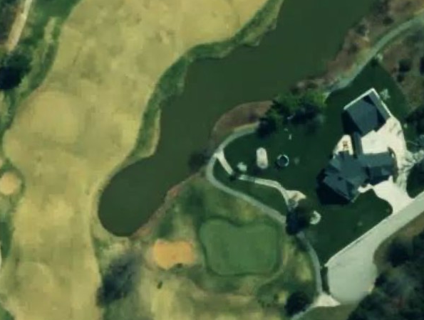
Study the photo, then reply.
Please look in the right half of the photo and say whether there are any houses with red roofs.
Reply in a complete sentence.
No, in the right half of the photo there is no house with a red roof.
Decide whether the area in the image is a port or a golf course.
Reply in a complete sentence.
It's a golf course.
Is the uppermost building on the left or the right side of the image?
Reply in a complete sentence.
The uppermost building is on the right side of the image.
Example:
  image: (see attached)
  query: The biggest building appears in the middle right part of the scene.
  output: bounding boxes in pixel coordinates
[319,130,395,204]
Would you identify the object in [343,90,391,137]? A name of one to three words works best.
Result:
building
